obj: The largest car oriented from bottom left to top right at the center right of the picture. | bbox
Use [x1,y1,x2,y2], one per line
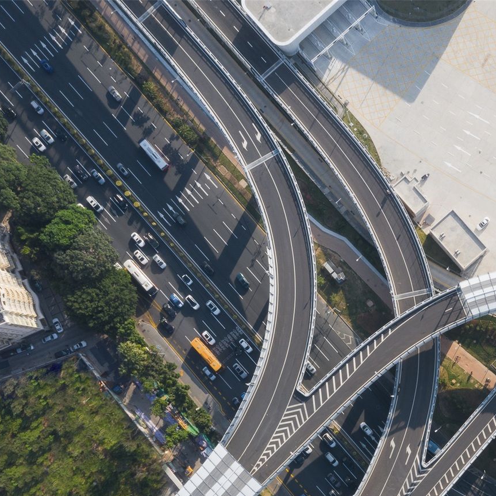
[477,214,492,232]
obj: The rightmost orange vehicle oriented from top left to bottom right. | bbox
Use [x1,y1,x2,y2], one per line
[186,337,222,374]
